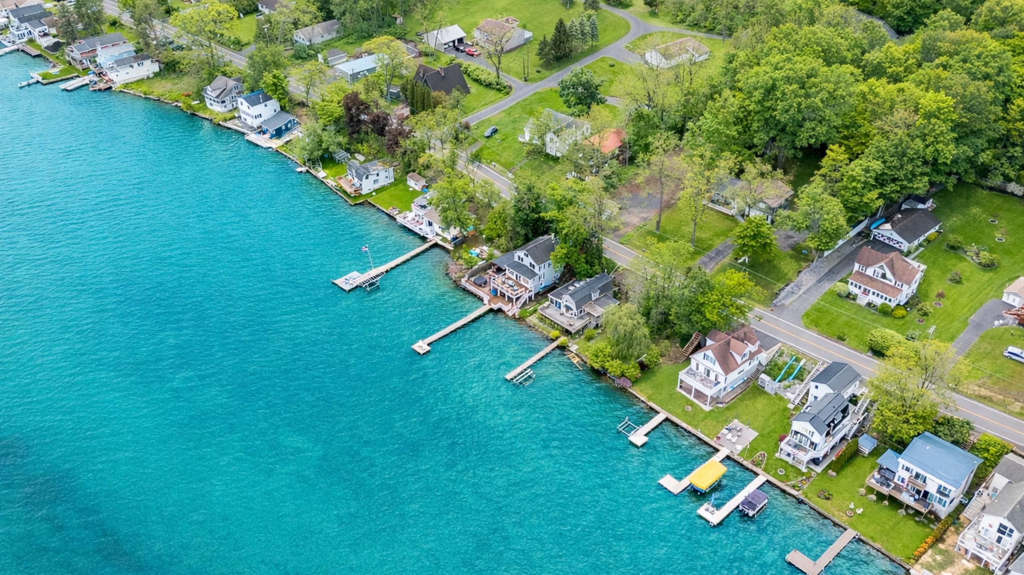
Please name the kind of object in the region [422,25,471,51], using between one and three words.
building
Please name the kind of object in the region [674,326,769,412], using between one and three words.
house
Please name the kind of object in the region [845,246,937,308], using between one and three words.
house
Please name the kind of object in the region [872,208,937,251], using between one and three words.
building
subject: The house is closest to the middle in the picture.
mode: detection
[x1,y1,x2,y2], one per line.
[462,230,564,318]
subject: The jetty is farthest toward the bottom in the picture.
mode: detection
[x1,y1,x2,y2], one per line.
[784,531,854,575]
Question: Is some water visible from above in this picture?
Yes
